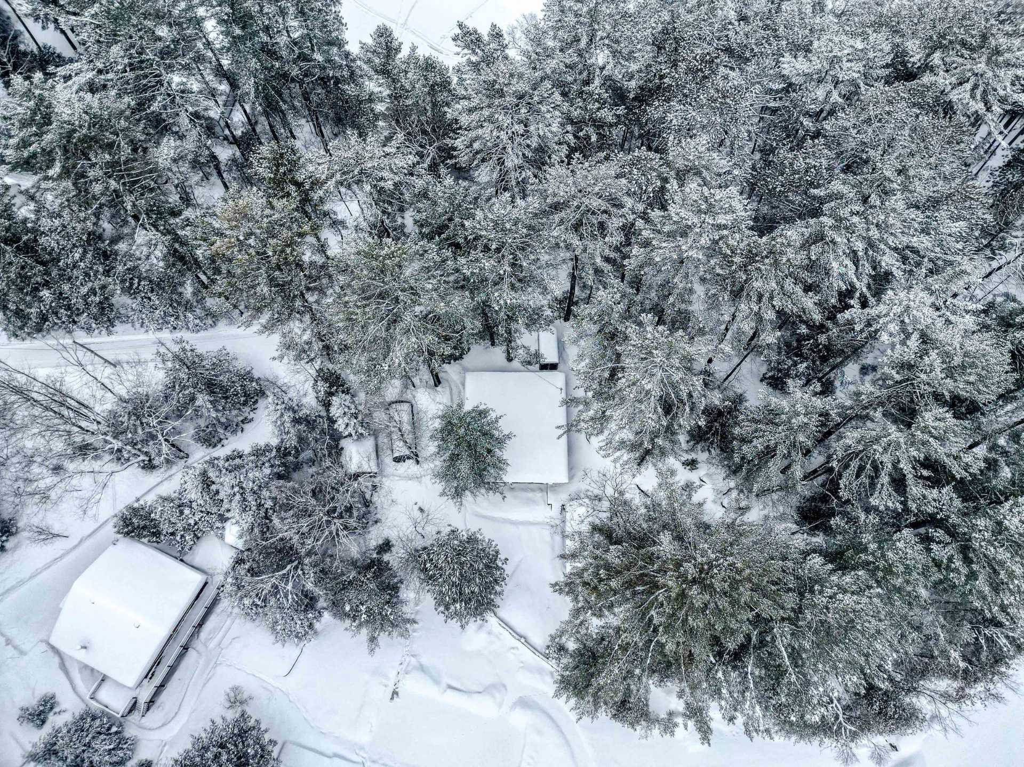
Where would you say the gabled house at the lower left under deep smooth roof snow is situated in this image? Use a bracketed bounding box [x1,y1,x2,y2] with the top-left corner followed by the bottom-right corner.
[48,535,205,692]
